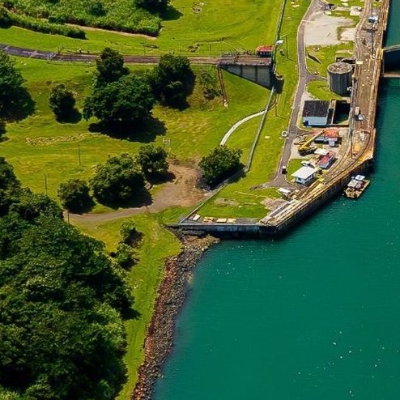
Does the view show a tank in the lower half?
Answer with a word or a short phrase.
No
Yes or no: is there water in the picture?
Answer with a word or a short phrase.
Yes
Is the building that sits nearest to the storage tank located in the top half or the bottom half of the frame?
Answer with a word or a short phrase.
top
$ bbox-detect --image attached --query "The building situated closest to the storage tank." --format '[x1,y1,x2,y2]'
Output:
[303,99,330,127]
